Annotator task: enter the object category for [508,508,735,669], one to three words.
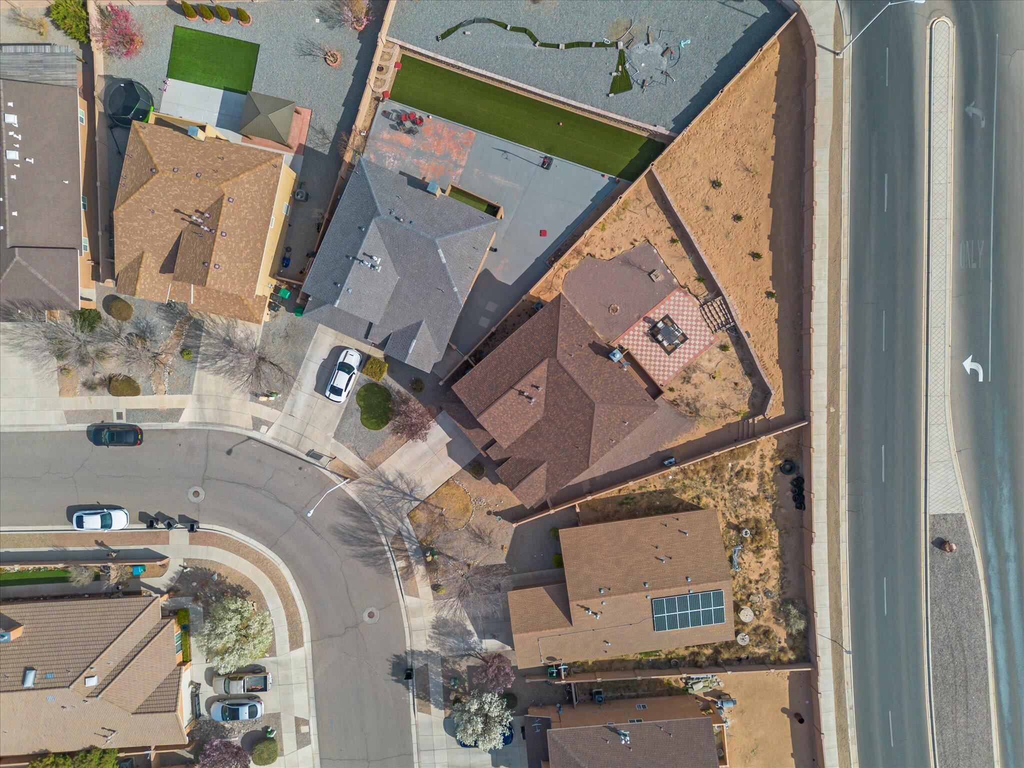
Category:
house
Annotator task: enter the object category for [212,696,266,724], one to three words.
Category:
car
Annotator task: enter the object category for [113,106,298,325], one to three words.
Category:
house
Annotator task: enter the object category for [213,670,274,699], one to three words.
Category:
truck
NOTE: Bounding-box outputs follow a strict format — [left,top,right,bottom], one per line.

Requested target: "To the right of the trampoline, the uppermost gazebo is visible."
[240,91,302,151]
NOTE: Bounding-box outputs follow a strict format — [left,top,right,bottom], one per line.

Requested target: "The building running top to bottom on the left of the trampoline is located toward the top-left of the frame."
[0,80,98,323]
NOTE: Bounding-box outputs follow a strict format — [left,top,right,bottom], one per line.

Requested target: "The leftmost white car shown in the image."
[73,509,132,534]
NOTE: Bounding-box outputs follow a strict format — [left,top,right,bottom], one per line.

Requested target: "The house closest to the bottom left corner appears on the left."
[0,592,197,761]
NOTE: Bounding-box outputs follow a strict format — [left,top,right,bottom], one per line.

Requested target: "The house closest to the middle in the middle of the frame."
[437,293,668,509]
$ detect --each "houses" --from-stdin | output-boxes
[302,158,503,373]
[0,592,197,761]
[113,106,298,325]
[437,293,668,509]
[0,80,98,323]
[524,695,733,768]
[508,508,735,669]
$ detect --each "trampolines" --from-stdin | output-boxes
[90,66,154,128]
